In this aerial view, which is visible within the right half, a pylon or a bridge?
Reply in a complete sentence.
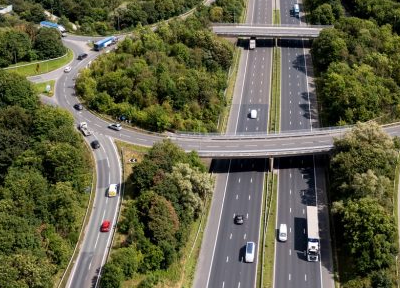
The one visible within the right half is a bridge.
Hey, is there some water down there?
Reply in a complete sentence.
No, the picture contains no water.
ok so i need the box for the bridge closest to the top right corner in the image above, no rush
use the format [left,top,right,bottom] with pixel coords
[217,24,332,47]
